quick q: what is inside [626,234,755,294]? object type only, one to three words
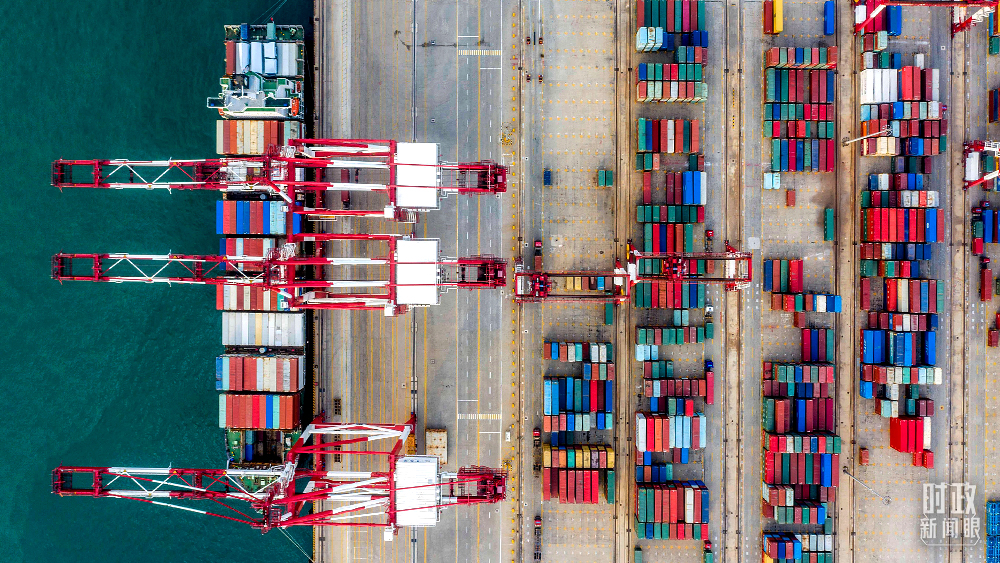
container crane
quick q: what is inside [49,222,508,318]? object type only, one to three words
container crane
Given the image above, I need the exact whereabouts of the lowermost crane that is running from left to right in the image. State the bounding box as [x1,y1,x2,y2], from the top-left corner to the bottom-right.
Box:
[48,407,508,543]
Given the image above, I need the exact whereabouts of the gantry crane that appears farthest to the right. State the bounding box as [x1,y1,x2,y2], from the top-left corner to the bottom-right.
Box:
[963,137,1000,196]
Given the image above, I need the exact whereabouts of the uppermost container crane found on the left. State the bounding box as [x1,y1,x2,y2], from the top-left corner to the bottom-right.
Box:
[49,136,509,227]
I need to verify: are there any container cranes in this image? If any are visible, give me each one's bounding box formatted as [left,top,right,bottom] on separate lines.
[626,234,755,294]
[49,136,509,227]
[49,222,508,318]
[963,137,1000,196]
[853,0,1000,41]
[515,252,636,311]
[48,407,508,543]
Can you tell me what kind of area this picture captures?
port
